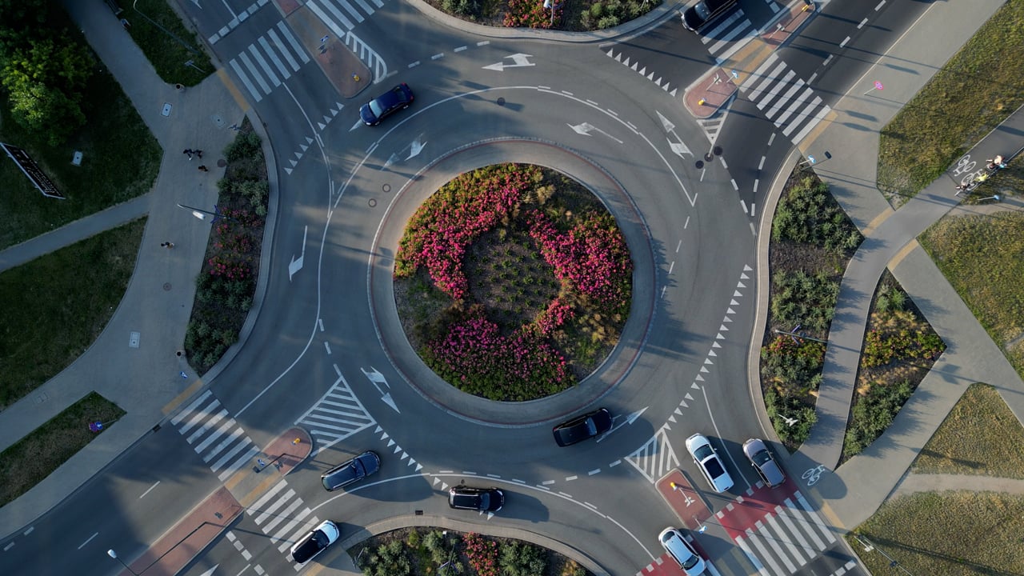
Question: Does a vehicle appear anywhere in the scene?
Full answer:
Yes, a vehicle appears in the view.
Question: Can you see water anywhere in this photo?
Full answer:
No, no water is visible.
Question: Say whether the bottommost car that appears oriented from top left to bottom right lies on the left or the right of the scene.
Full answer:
The bottommost car that appears oriented from top left to bottom right is on the right side of the image.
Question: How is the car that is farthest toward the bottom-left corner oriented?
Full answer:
The car that is farthest toward the bottom-left corner has been laid out at an angle relative to the frame.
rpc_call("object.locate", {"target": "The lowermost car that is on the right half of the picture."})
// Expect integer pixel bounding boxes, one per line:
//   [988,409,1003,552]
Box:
[657,524,706,576]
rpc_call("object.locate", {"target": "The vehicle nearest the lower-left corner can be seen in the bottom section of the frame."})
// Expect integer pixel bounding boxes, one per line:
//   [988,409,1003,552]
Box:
[290,521,342,566]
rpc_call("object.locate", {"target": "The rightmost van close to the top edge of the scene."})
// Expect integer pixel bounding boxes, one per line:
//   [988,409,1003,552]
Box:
[683,0,743,30]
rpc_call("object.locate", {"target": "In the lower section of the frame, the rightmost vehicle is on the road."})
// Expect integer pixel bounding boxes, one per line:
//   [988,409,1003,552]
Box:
[742,436,787,491]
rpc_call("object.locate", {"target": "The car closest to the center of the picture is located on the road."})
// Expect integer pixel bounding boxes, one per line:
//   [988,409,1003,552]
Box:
[552,409,614,448]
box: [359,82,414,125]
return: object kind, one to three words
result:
car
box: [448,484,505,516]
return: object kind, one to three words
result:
car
